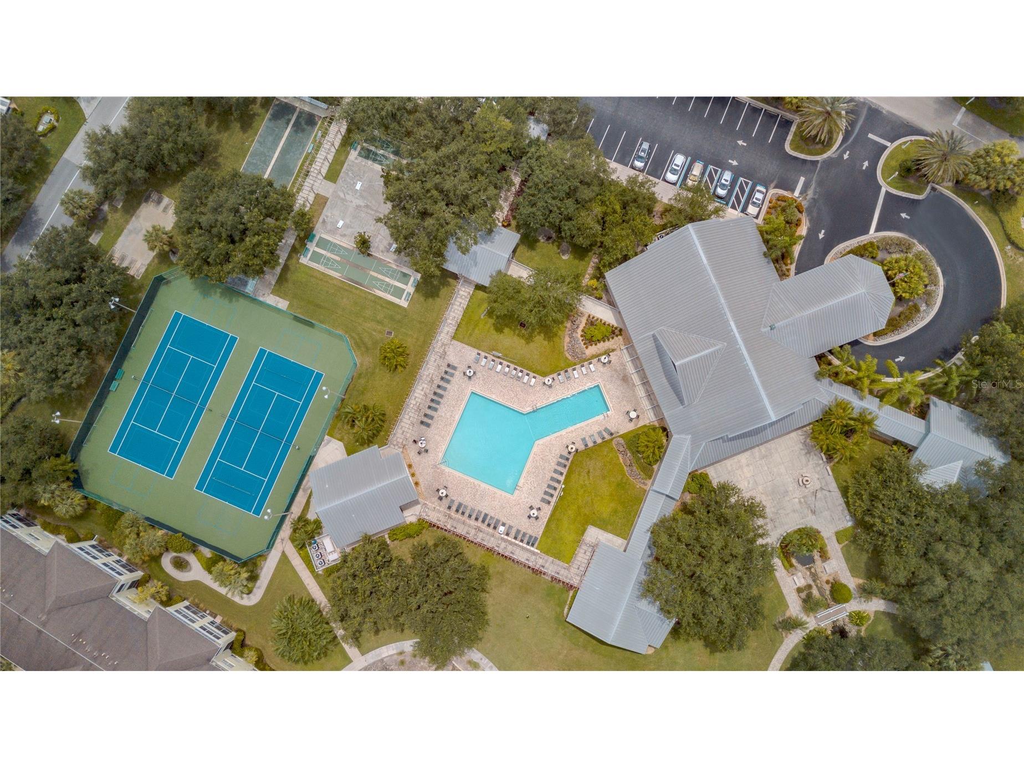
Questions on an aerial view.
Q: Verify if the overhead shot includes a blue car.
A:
No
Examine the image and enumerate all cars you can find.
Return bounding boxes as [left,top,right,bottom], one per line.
[746,184,767,218]
[715,168,733,199]
[633,140,651,171]
[685,158,706,189]
[666,151,686,184]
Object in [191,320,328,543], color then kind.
blue tennis court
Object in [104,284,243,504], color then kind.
blue tennis court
